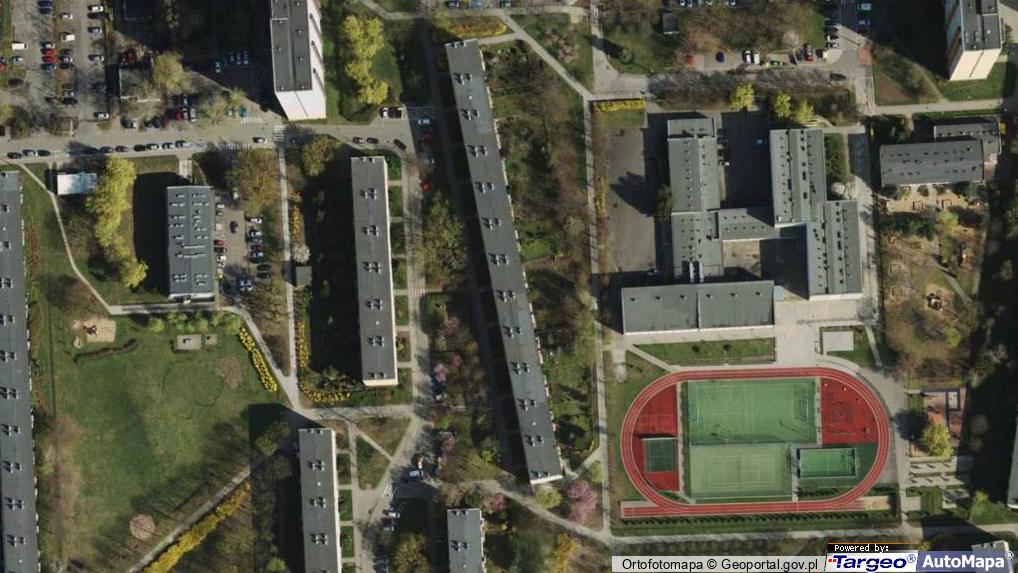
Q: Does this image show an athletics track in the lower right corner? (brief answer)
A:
Yes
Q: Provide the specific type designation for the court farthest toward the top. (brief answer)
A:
basketball court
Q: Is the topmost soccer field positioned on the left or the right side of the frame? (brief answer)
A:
right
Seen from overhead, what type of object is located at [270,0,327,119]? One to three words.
building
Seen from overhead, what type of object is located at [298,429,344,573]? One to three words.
building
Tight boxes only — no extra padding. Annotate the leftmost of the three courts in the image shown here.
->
[644,439,676,472]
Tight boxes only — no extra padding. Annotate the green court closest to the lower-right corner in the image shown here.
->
[800,447,859,478]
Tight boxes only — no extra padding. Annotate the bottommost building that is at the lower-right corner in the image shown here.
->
[966,542,1008,573]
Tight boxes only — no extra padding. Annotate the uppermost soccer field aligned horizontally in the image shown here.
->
[688,379,816,445]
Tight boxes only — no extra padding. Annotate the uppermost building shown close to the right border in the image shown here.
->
[946,0,1001,86]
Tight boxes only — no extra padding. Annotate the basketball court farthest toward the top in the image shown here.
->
[821,379,877,444]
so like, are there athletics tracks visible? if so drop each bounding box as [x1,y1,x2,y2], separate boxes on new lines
[620,368,889,521]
